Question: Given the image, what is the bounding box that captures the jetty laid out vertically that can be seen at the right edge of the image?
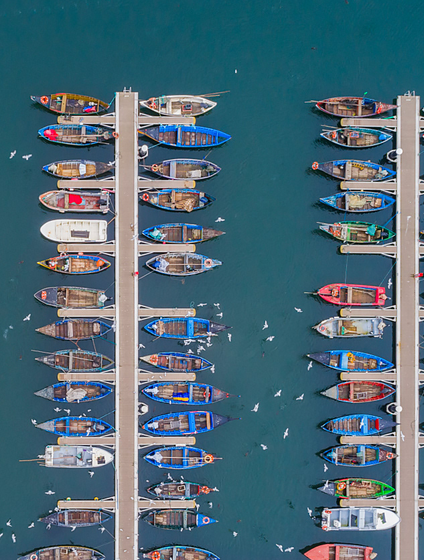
[338,89,424,560]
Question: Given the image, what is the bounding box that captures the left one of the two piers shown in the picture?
[57,86,195,560]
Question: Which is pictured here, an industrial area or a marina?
marina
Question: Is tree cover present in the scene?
No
